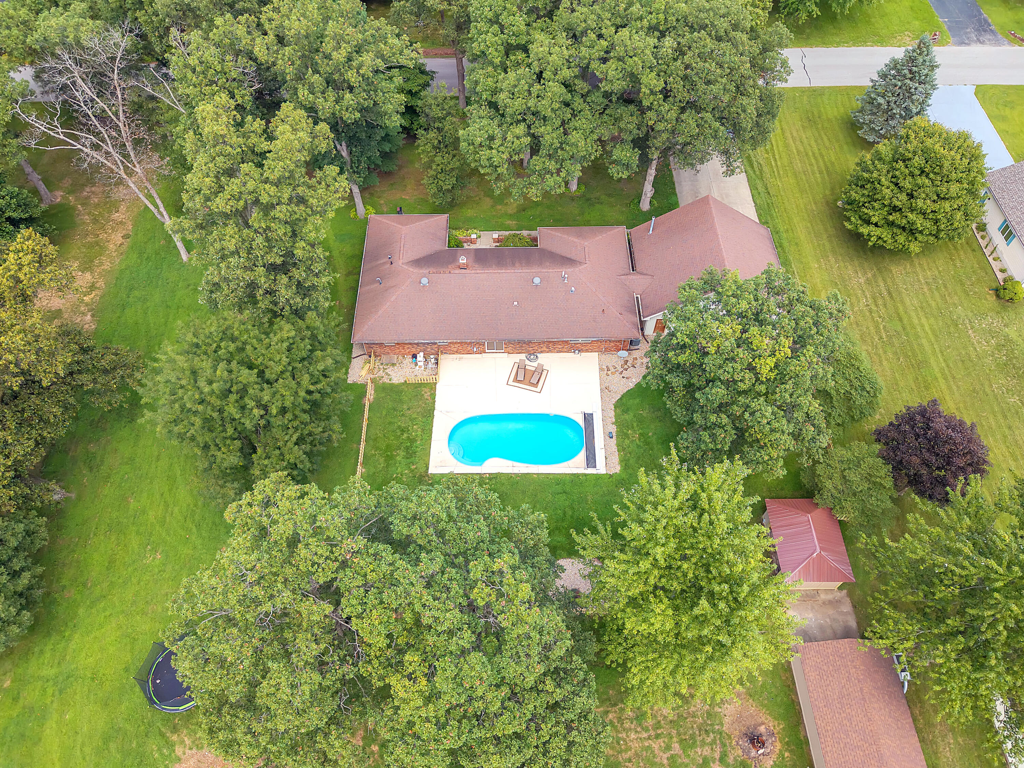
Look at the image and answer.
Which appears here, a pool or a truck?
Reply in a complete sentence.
The one in the frame is a pool.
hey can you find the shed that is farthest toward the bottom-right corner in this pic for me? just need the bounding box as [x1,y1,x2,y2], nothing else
[789,639,924,768]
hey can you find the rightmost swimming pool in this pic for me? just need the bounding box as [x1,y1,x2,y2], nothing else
[447,412,584,467]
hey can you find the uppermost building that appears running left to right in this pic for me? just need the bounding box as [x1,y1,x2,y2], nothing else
[349,194,790,359]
